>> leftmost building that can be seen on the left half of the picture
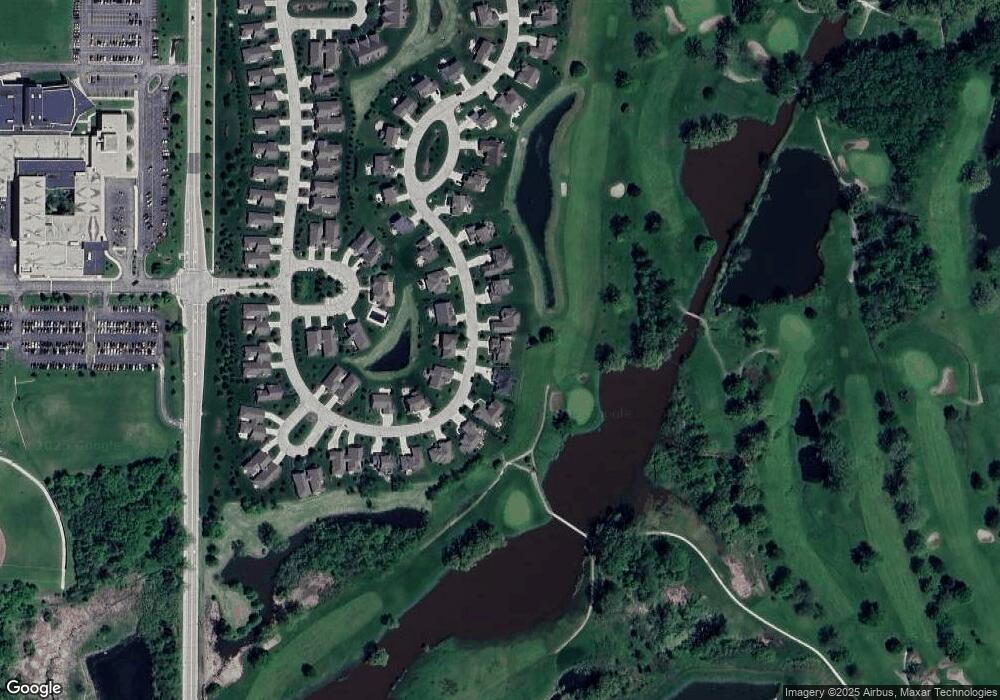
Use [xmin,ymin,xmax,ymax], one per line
[0,78,127,277]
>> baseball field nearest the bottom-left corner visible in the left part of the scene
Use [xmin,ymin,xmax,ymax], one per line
[0,464,61,589]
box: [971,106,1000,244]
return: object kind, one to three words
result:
pond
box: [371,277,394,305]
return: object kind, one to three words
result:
building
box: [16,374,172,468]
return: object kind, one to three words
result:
sports field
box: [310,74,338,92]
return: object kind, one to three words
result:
house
